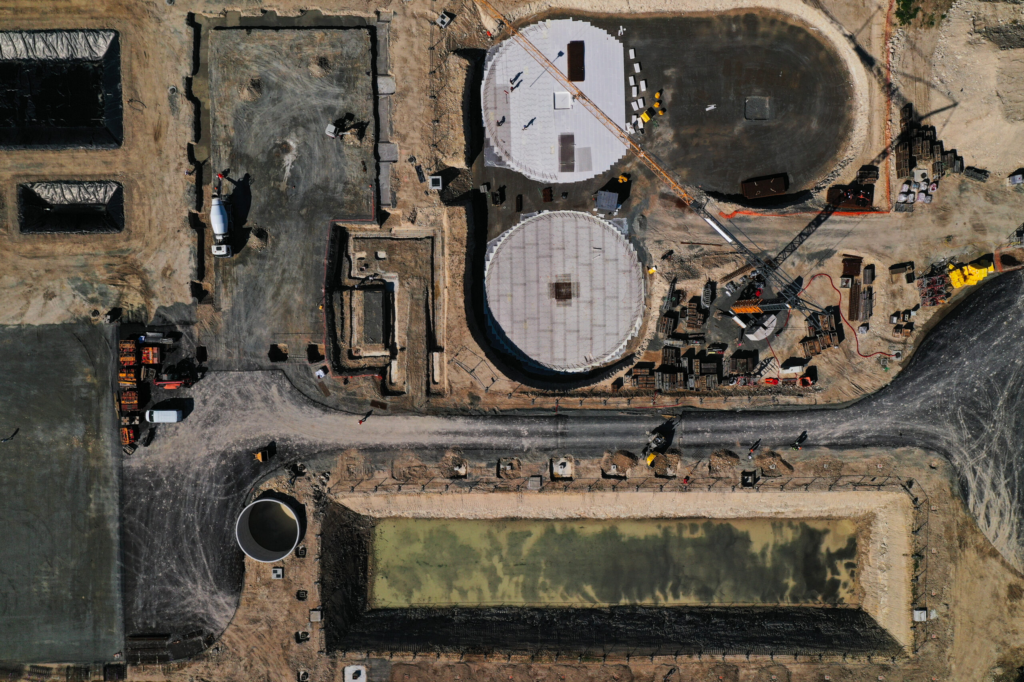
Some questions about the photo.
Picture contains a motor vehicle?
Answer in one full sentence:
Yes, a motor vehicle can be made out from above.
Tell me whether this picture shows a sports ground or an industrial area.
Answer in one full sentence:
It's an industrial area.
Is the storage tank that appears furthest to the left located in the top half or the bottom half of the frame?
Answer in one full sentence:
Seen from above, the storage tank that appears furthest to the left lies in the bottom half of the view.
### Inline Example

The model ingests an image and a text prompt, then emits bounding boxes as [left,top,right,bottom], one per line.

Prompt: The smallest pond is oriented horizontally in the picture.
[19,182,126,233]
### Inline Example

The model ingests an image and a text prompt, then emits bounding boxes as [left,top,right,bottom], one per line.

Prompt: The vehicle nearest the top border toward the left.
[325,124,354,142]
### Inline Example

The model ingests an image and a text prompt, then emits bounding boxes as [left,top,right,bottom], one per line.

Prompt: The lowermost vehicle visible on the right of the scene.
[647,428,665,462]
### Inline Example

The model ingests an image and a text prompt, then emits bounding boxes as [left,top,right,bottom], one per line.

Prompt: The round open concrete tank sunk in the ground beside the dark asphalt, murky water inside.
[236,496,303,563]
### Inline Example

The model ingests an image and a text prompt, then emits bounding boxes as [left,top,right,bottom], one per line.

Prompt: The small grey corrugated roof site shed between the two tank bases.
[595,189,619,214]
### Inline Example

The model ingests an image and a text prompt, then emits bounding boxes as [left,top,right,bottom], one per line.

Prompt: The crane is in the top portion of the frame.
[483,0,831,342]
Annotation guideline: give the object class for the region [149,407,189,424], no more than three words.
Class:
vehicle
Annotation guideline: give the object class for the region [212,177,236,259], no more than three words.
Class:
truck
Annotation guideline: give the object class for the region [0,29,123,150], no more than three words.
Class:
pond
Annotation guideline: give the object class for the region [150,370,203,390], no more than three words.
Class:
work vehicle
